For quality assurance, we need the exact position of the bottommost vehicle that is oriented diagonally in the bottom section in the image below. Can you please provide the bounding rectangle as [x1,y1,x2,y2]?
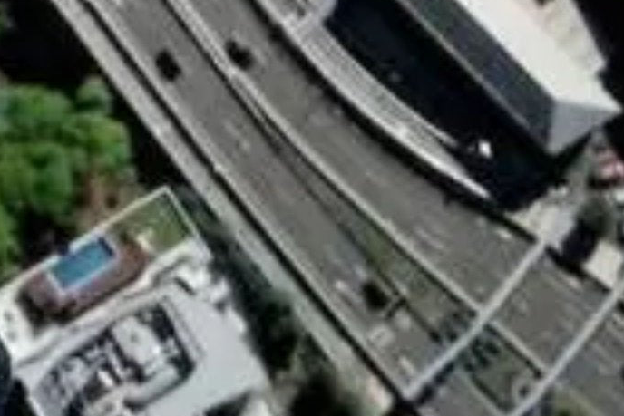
[355,274,396,318]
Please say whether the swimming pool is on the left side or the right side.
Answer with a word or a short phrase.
left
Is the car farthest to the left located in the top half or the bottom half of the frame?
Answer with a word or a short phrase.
top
